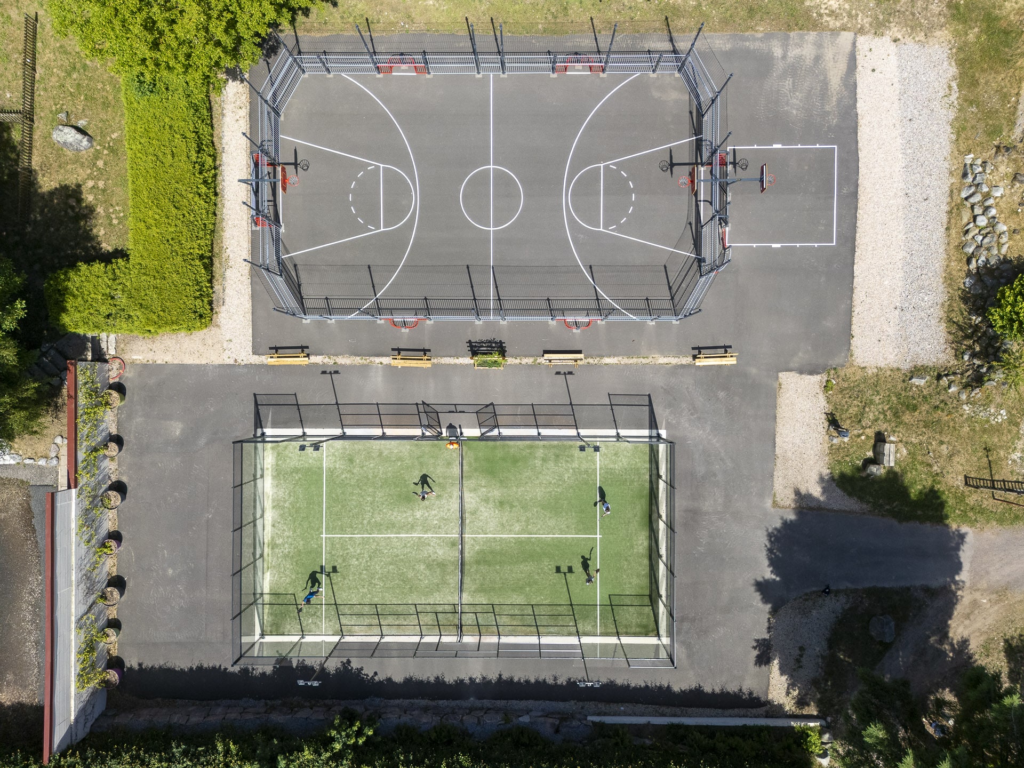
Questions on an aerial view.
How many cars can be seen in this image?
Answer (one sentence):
There are no cars in the image.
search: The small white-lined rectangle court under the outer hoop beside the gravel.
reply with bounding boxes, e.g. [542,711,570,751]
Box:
[727,144,836,247]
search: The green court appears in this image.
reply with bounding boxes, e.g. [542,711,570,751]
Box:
[232,421,676,668]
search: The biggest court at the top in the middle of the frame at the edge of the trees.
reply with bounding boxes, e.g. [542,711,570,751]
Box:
[280,72,703,321]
